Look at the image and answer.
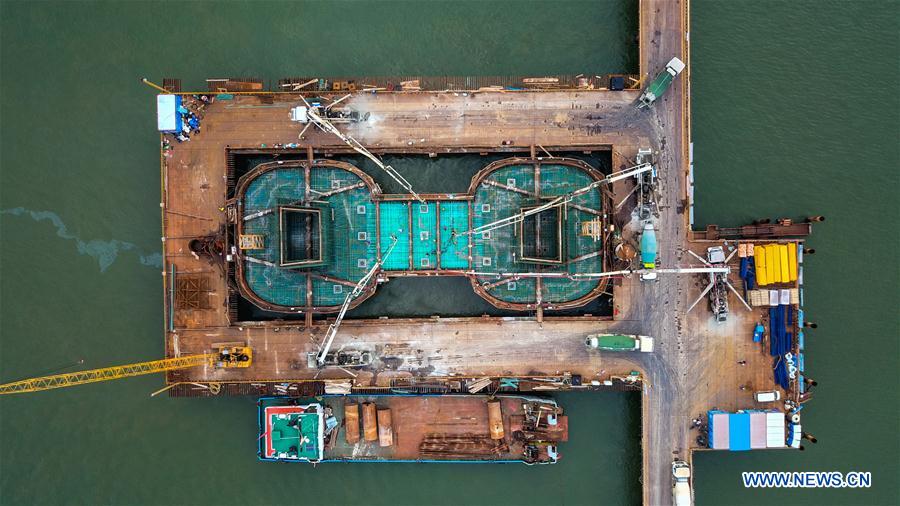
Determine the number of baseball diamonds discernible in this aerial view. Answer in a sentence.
The picture shows no baseball diamonds.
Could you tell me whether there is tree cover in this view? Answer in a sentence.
No, no tree cover is visible.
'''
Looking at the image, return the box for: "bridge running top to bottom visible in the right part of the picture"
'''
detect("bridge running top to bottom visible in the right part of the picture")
[631,0,696,506]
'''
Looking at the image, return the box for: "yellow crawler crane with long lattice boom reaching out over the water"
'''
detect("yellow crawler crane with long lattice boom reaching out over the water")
[0,343,255,396]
